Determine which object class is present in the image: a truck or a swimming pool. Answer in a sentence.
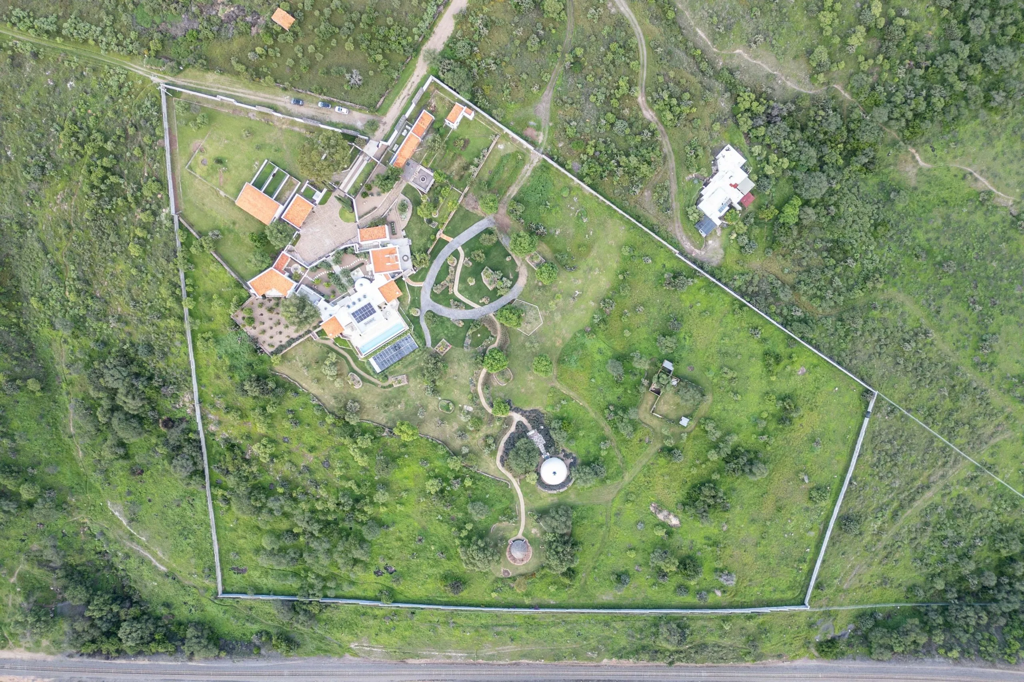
The image shows a swimming pool.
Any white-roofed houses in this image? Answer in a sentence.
Yes, this view includes a white-roofed house.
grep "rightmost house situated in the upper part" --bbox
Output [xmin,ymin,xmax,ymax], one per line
[693,144,755,238]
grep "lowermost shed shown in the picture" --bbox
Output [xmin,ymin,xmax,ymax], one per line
[506,539,532,565]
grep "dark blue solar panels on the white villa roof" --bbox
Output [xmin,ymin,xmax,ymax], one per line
[351,302,377,323]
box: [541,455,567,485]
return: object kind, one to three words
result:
shed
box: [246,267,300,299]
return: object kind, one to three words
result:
house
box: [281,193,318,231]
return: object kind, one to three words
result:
building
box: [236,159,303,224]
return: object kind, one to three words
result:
barn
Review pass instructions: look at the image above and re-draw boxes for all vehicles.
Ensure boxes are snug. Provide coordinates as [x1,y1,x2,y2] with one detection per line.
[290,97,303,105]
[317,101,331,108]
[335,106,348,113]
